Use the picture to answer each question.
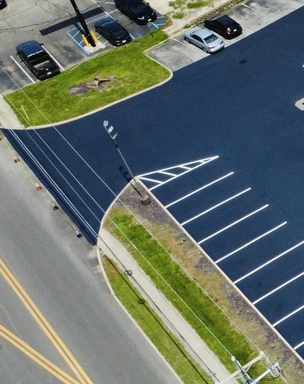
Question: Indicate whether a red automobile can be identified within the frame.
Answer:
No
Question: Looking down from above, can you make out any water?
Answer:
No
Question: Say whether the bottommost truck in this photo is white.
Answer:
No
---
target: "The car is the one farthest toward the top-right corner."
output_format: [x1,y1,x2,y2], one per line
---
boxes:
[204,17,244,41]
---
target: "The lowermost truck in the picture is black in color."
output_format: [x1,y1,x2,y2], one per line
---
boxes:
[16,45,61,80]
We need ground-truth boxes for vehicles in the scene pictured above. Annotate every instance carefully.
[204,17,244,41]
[93,17,132,47]
[16,45,61,80]
[115,0,156,24]
[184,29,227,56]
